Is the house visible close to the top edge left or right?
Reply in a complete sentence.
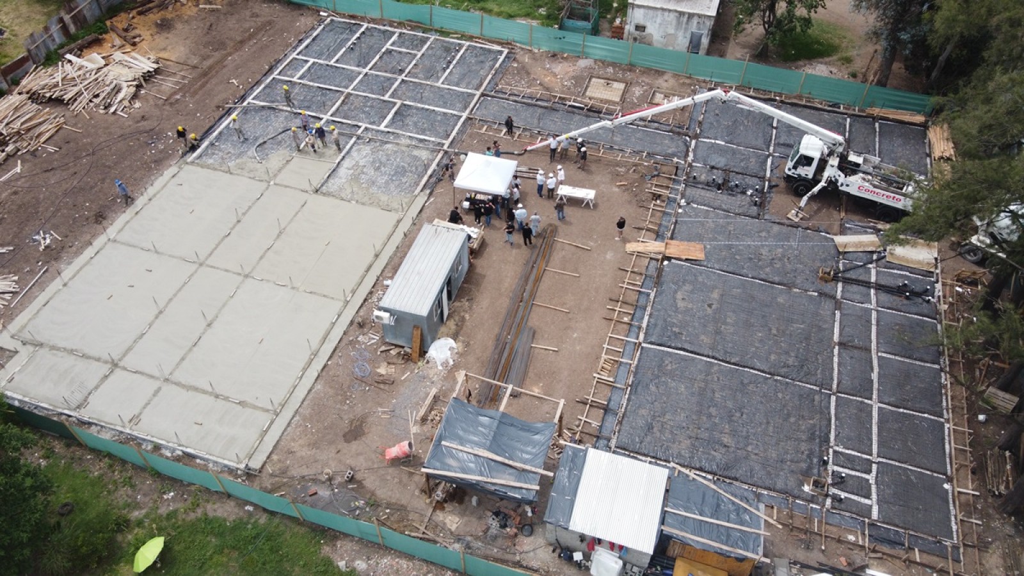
The house visible close to the top edge appears in the right half of the scene.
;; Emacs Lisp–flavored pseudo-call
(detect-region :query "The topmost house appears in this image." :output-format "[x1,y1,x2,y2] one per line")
[625,0,724,56]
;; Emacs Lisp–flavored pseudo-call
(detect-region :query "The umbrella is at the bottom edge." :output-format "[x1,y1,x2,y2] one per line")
[132,534,175,575]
